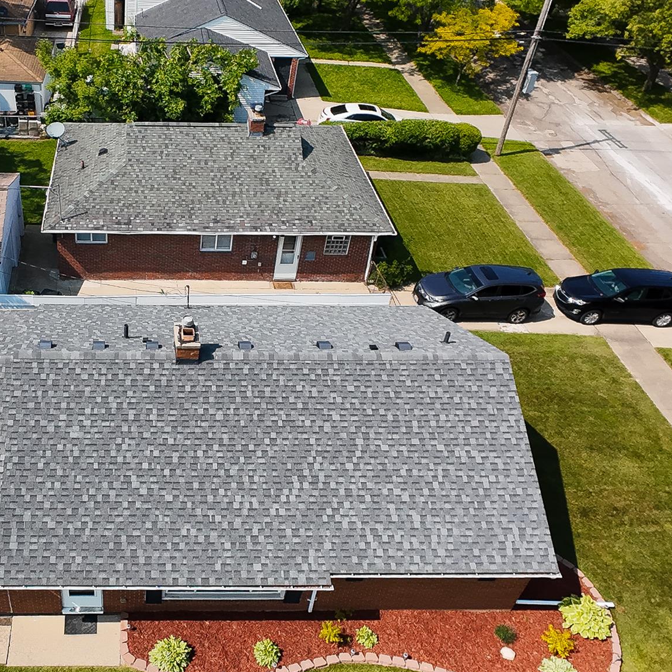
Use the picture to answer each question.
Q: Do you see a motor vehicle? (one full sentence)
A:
Yes, the picture does show a motor vehicle.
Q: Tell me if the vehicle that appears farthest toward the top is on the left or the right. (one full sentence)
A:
You can find the vehicle that appears farthest toward the top on the left side of the picture.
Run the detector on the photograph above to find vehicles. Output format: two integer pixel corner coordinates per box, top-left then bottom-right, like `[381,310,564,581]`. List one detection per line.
[320,105,410,138]
[47,0,75,22]
[553,265,672,324]
[416,262,550,321]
